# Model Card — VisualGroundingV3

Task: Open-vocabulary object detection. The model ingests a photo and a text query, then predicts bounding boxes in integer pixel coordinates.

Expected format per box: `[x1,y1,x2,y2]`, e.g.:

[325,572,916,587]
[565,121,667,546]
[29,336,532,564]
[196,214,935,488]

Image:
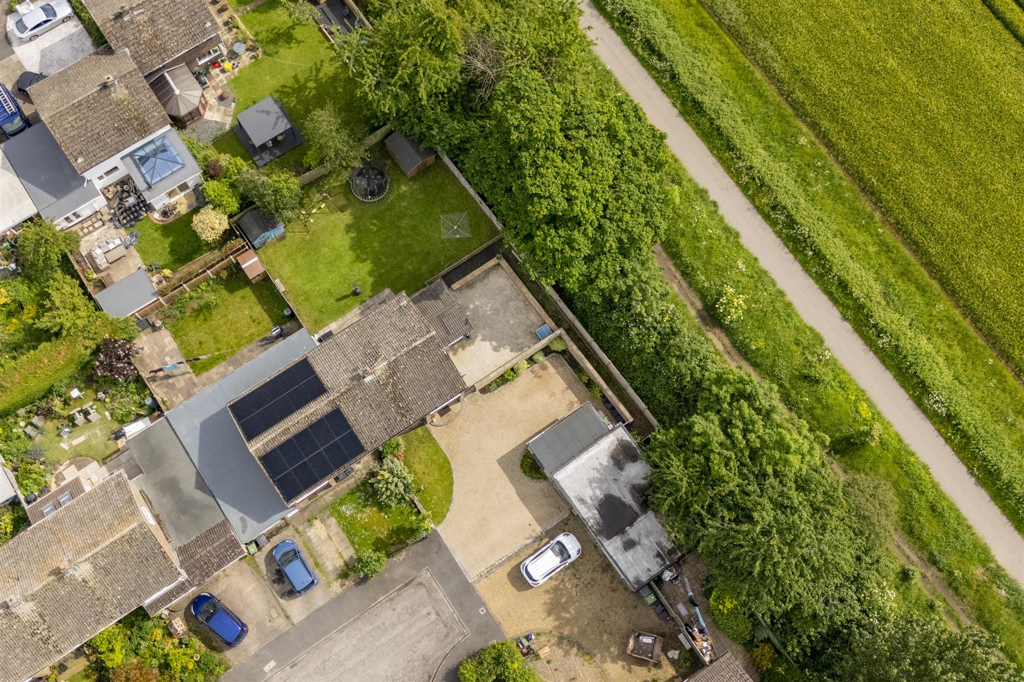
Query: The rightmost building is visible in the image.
[671,649,751,682]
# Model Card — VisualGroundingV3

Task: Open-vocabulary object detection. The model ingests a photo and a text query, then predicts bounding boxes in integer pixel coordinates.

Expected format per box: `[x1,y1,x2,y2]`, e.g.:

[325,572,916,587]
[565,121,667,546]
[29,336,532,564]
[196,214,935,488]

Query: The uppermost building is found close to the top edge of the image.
[96,0,234,81]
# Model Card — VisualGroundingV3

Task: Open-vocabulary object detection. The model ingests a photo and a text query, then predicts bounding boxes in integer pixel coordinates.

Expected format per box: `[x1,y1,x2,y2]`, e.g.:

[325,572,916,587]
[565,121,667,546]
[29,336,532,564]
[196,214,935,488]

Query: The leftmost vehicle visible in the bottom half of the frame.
[194,591,249,651]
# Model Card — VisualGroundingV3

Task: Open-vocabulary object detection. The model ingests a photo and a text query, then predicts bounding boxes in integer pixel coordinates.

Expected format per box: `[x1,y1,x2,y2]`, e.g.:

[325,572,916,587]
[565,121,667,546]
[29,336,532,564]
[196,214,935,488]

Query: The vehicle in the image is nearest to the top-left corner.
[12,4,77,45]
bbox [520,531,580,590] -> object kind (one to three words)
car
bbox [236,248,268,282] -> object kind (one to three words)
shed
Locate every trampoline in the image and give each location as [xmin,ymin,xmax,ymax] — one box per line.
[347,161,388,205]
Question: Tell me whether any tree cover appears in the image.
Yes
